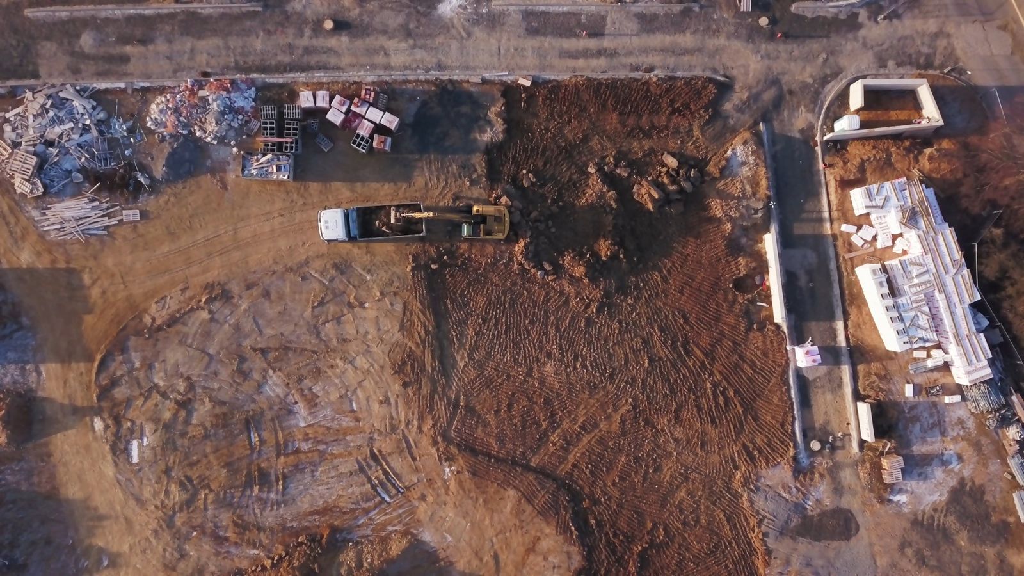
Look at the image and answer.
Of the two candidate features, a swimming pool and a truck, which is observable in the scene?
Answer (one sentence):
The one in the frame is a truck.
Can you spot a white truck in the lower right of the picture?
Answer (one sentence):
No, there is no white truck in the lower right of the picture.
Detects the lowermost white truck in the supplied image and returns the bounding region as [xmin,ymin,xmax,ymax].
[309,199,425,245]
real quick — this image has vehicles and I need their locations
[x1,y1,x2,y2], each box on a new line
[394,201,514,237]
[309,199,425,245]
